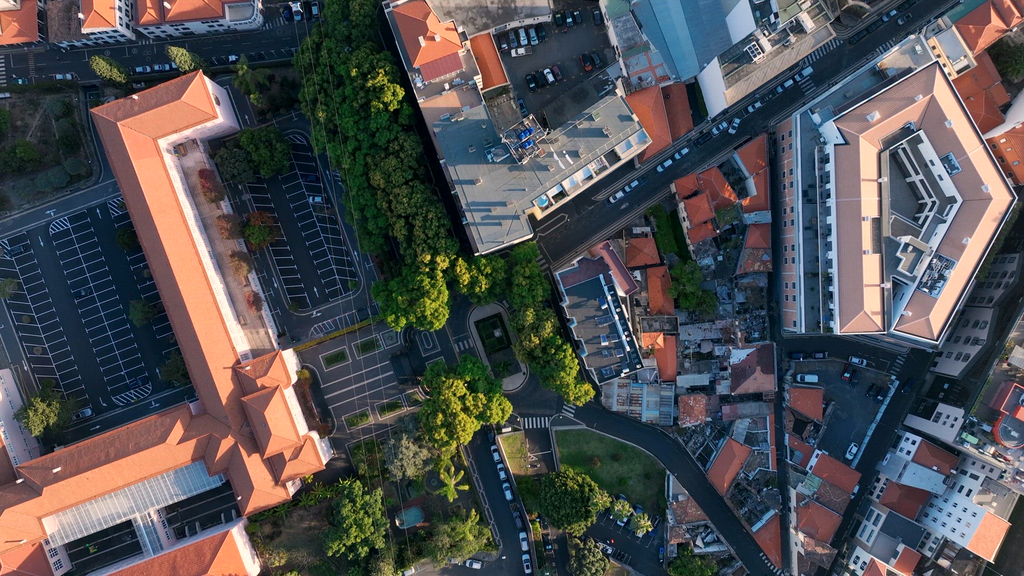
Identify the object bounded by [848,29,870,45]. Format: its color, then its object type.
black vehicle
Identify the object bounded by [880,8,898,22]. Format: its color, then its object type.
blue car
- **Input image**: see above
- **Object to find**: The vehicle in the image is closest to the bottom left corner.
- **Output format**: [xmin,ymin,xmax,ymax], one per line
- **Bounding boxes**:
[78,407,95,420]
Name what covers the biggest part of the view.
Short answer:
buildings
